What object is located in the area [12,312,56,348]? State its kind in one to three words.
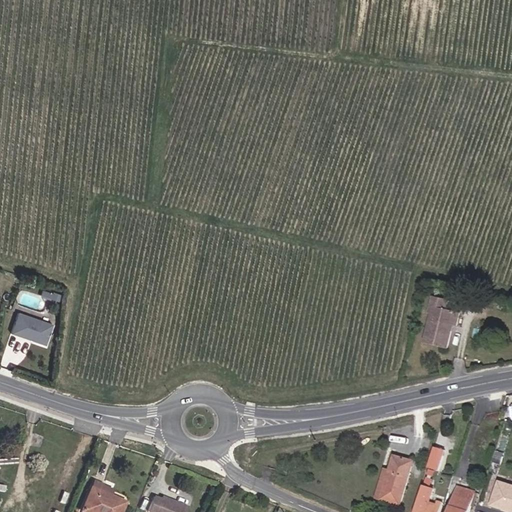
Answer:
house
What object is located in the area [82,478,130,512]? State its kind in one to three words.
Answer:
house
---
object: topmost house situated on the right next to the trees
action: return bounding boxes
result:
[422,296,459,348]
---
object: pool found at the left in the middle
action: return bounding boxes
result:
[17,292,44,310]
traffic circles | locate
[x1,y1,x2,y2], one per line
[146,382,257,466]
